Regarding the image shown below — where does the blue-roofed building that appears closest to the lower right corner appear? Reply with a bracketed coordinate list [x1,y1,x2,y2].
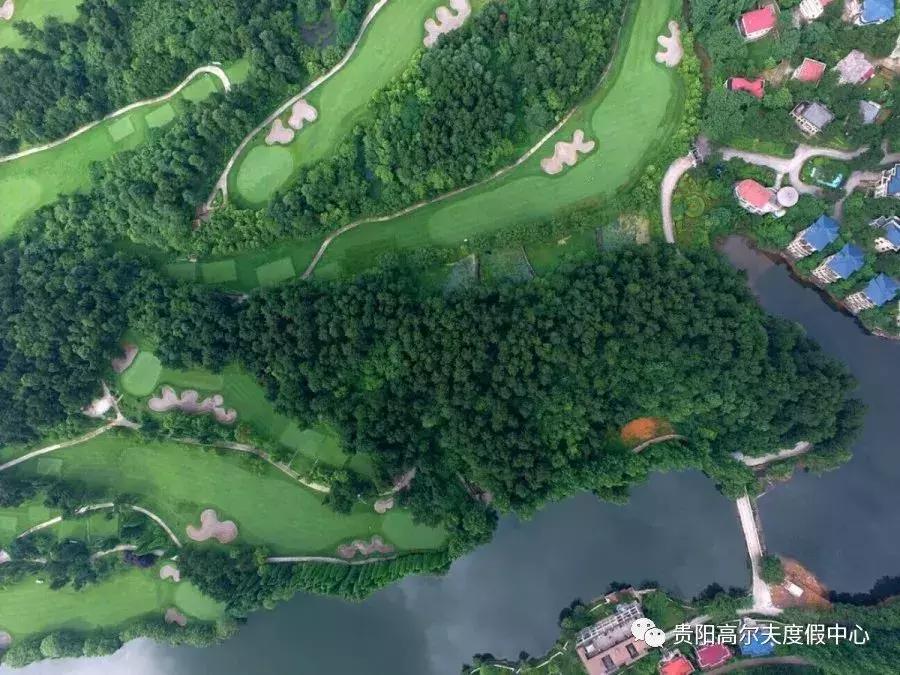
[737,612,776,656]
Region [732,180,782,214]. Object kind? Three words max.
house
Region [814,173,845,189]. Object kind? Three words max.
swimming pool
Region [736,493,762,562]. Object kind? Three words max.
bridge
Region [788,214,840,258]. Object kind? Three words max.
house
